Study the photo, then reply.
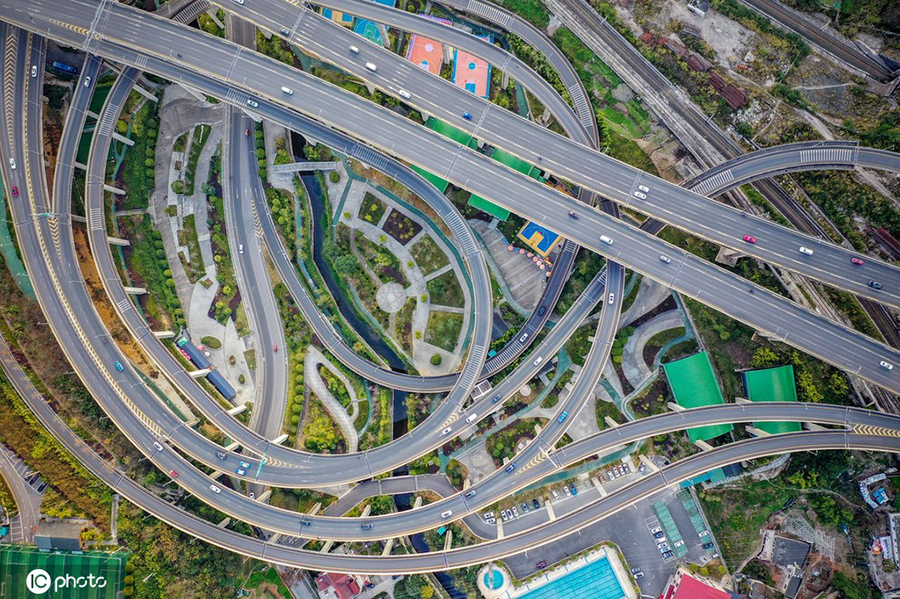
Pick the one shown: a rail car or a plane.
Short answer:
rail car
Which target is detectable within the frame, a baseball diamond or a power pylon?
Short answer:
power pylon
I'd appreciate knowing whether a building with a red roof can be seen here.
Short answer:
Yes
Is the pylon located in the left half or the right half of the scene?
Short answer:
right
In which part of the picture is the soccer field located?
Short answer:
bottom left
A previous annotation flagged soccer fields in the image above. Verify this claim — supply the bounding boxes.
[0,544,128,599]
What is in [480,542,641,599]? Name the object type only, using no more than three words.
swimming pool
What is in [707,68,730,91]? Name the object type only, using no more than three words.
rail car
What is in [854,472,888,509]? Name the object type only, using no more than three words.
building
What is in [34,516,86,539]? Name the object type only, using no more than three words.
building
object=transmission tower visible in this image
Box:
[780,515,845,567]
